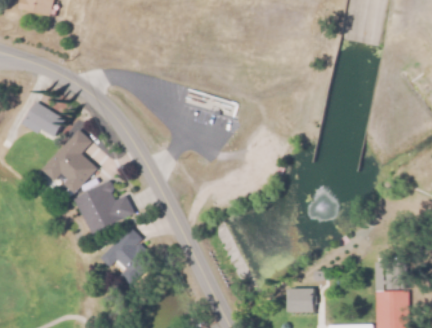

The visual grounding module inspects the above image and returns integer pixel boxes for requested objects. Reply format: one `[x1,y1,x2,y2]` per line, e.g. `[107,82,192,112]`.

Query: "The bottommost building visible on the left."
[102,230,149,284]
